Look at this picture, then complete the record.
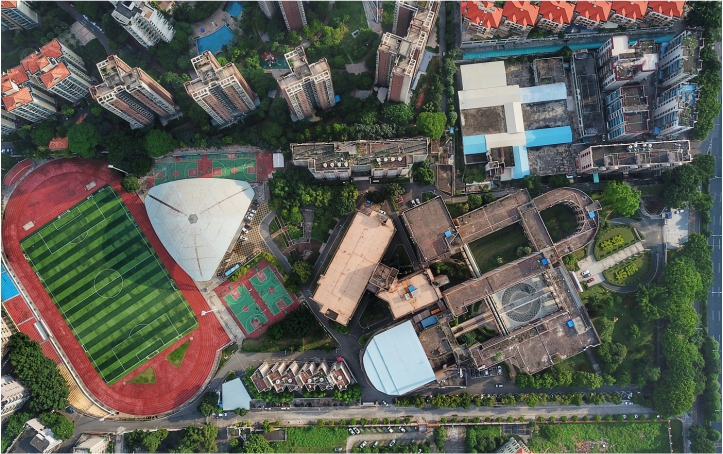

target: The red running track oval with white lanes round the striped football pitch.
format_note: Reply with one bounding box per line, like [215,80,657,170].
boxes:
[2,157,230,415]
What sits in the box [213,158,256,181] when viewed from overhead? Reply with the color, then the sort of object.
green basketball court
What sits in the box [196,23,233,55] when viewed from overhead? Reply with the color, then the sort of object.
blue swimming pool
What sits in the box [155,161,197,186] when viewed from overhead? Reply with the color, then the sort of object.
green basketball court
